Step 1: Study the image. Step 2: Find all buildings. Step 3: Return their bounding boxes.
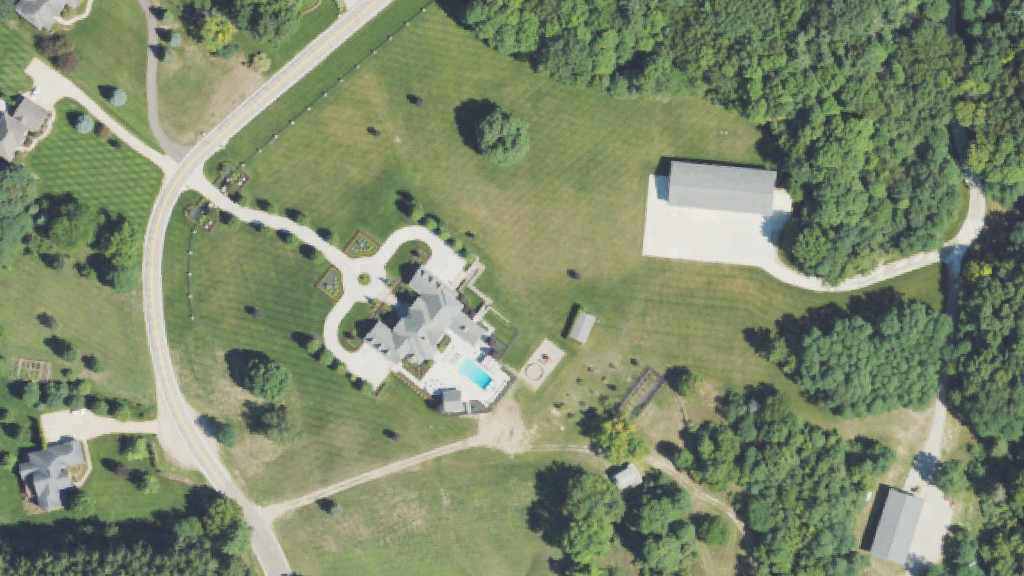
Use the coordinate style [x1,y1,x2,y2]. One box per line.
[363,268,484,369]
[615,464,642,489]
[0,95,49,169]
[444,391,461,413]
[668,161,778,214]
[10,0,82,35]
[871,490,924,565]
[570,312,596,344]
[18,441,85,510]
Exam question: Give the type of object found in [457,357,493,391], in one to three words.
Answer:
swimming pool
